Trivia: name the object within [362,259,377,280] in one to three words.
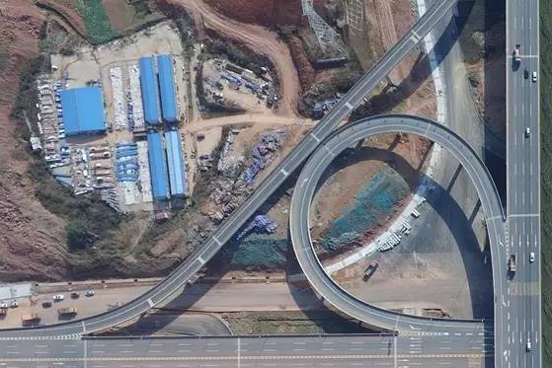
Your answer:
vehicle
